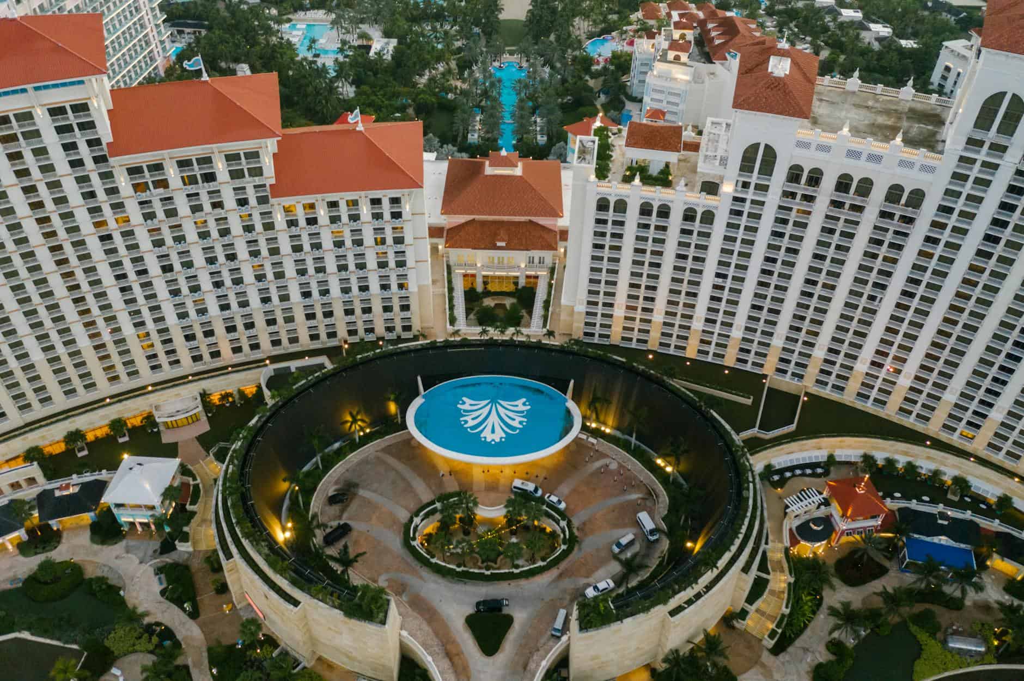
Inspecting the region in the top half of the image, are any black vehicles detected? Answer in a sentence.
No, I see no black vehicle in the top half of the image.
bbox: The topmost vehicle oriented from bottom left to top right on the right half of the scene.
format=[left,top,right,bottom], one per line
[610,530,638,553]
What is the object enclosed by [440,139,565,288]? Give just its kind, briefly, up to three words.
building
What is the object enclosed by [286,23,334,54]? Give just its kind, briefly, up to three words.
swimming pool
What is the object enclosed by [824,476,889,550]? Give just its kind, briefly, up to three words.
house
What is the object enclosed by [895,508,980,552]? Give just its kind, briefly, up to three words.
building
